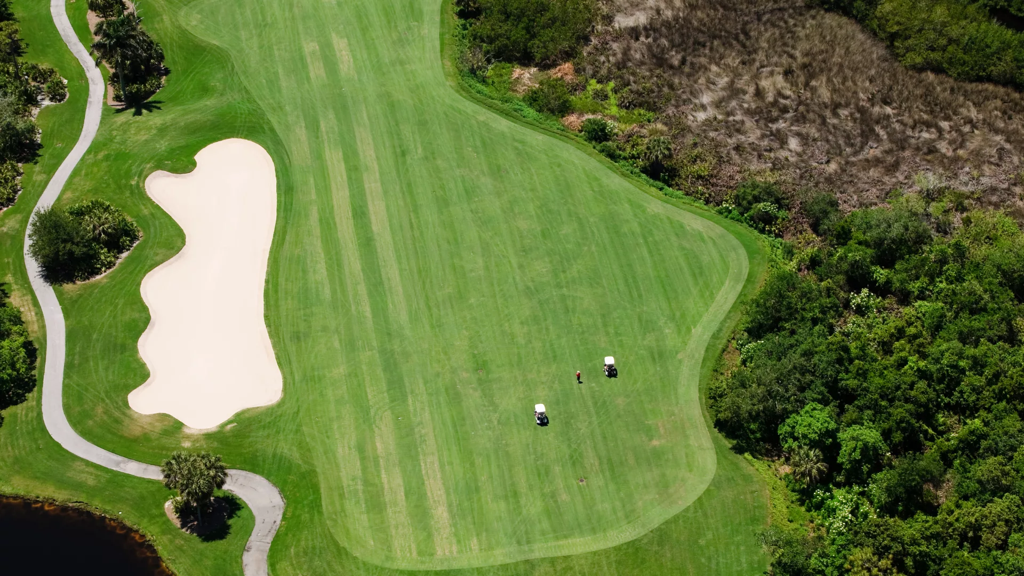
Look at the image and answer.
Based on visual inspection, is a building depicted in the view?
No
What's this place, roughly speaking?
golf course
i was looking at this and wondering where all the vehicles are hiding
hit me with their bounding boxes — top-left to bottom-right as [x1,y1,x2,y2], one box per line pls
[604,356,616,378]
[534,403,547,426]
